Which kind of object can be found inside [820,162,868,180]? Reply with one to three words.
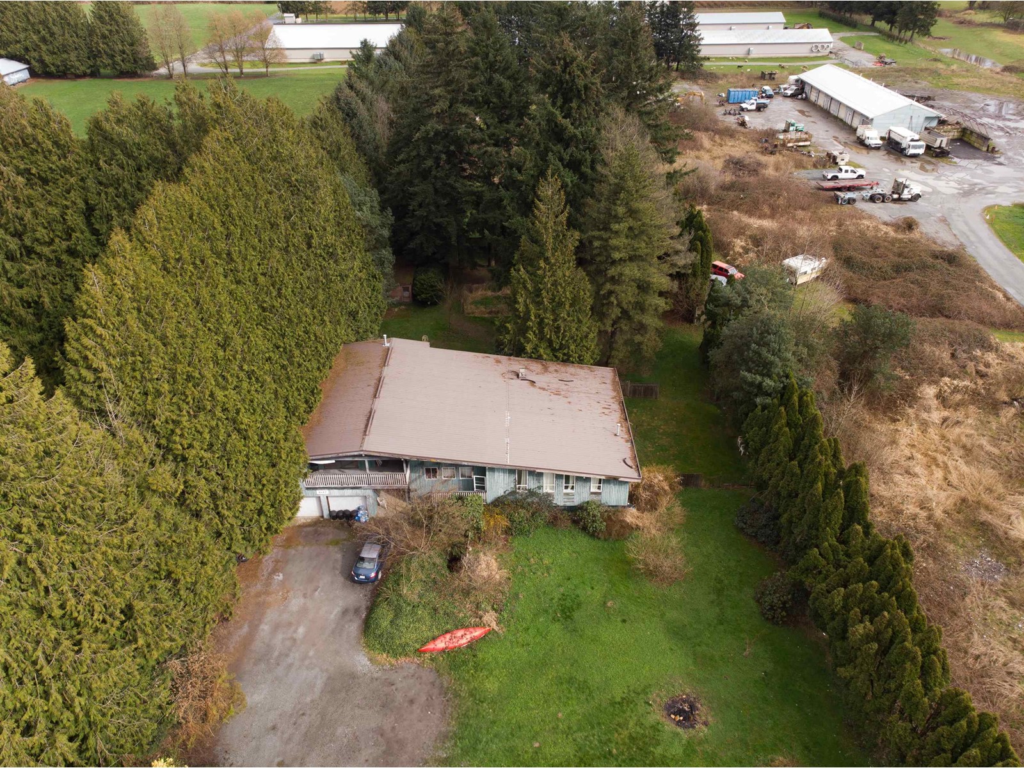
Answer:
vehicle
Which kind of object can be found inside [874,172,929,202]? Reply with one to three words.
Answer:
truck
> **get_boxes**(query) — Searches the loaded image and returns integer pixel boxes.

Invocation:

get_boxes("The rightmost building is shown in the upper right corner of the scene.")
[797,62,948,140]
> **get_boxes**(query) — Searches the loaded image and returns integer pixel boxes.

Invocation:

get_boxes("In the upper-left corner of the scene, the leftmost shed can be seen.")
[0,59,30,88]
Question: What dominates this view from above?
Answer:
trees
